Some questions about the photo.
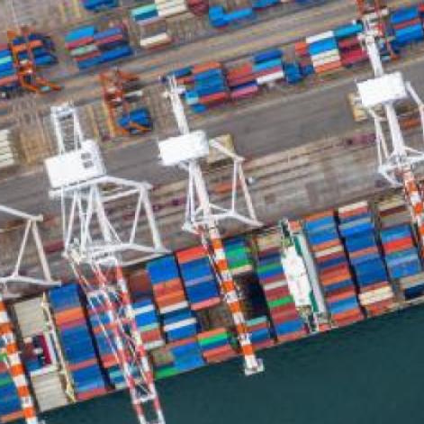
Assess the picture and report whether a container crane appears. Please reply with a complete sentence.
Yes, the photo shows a container crane.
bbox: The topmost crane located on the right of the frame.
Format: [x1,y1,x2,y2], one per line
[358,0,409,66]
